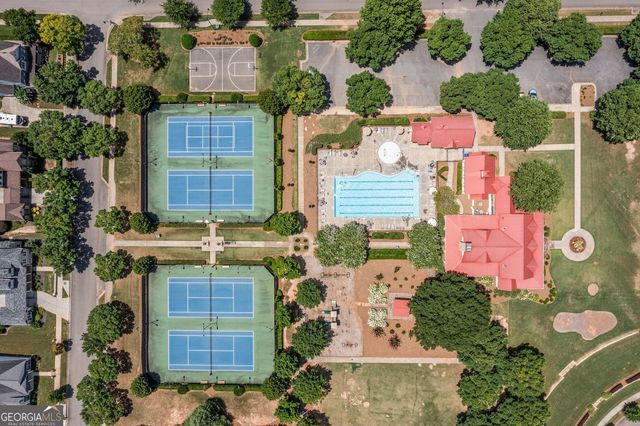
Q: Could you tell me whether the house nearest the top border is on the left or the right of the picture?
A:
left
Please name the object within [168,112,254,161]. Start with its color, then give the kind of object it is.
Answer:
blue tennis court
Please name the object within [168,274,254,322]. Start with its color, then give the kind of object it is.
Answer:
blue tennis court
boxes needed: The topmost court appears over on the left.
[189,47,256,92]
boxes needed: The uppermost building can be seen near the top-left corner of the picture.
[0,41,33,97]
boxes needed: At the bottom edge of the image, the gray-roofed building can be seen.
[0,355,36,409]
